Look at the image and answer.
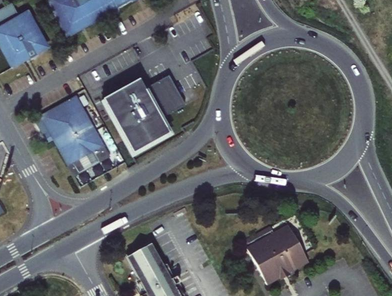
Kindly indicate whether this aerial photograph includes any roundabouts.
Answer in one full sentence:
Yes, this view includes a roundabout.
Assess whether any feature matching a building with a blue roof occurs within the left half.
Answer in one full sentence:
Yes, within the left half there is a building with a blue roof.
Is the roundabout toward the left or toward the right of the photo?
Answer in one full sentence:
You can find the roundabout on the right side of the picture.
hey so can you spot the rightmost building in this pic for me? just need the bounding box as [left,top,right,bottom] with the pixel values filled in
[246,220,308,286]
